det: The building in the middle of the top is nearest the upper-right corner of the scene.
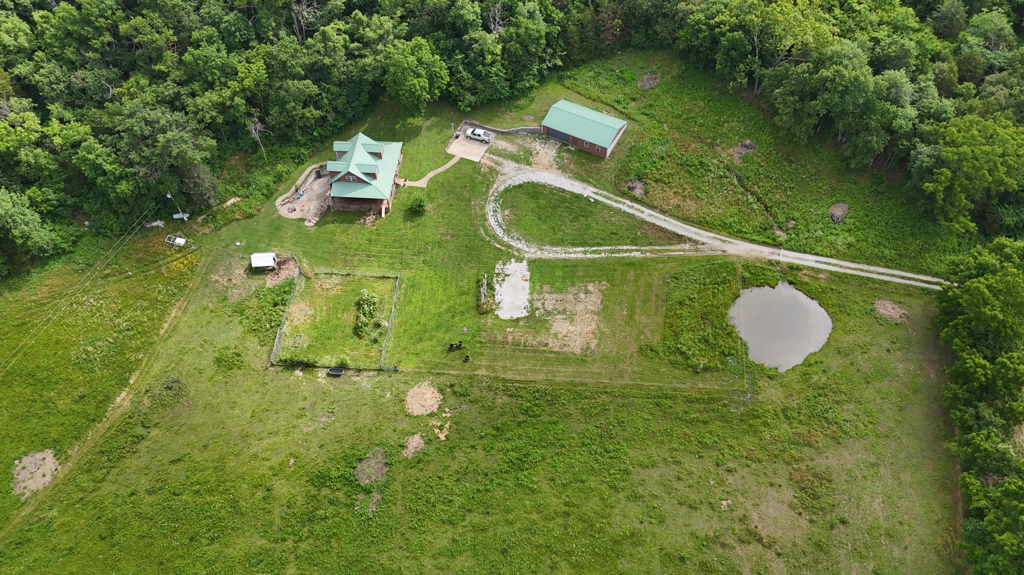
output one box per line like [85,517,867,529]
[541,95,627,158]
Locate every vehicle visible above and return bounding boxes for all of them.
[463,130,492,145]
